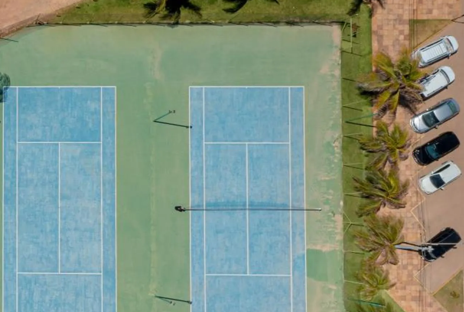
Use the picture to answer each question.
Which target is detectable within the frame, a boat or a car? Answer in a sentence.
The image shows a car.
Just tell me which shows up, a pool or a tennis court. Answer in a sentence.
It is a tennis court that can be seen here.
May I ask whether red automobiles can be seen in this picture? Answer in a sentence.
No, the picture doesn't show any red automobile.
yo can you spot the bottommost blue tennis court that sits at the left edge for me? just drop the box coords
[2,86,117,312]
